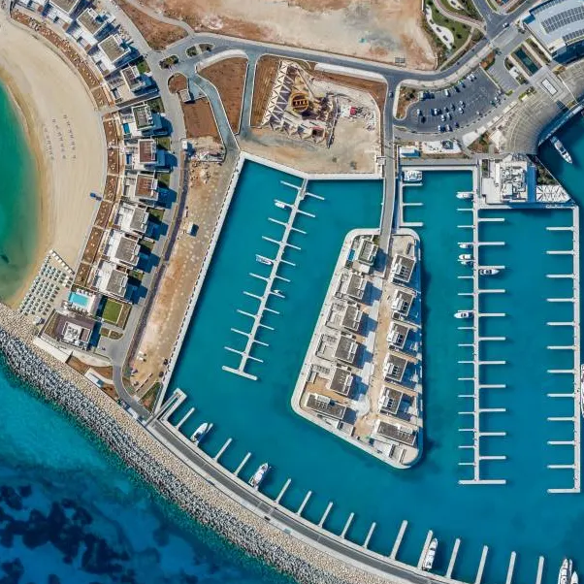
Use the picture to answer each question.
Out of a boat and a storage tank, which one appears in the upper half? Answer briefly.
boat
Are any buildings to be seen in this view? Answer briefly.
Yes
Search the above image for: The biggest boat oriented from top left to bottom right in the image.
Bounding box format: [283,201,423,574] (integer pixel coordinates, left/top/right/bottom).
[548,136,571,163]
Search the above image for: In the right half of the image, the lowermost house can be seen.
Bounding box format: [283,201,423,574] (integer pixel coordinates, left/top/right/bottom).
[371,414,426,445]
